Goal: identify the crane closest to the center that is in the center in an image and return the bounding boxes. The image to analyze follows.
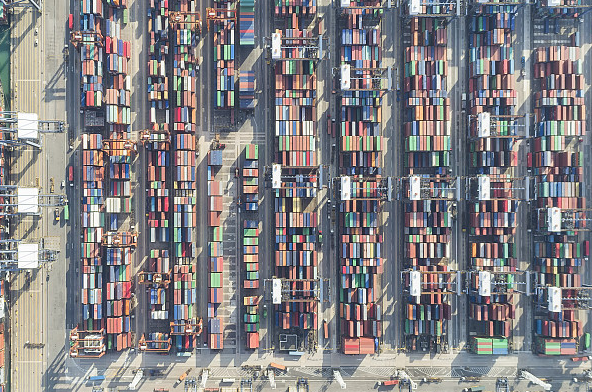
[265,163,331,193]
